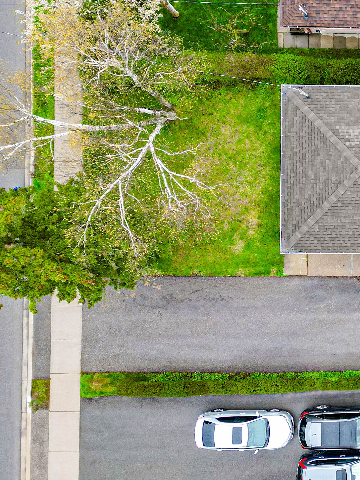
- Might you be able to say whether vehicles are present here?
Yes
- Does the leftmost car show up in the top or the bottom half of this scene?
bottom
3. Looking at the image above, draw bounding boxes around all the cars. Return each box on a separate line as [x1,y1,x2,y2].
[195,406,296,457]
[299,402,360,449]
[297,448,360,480]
